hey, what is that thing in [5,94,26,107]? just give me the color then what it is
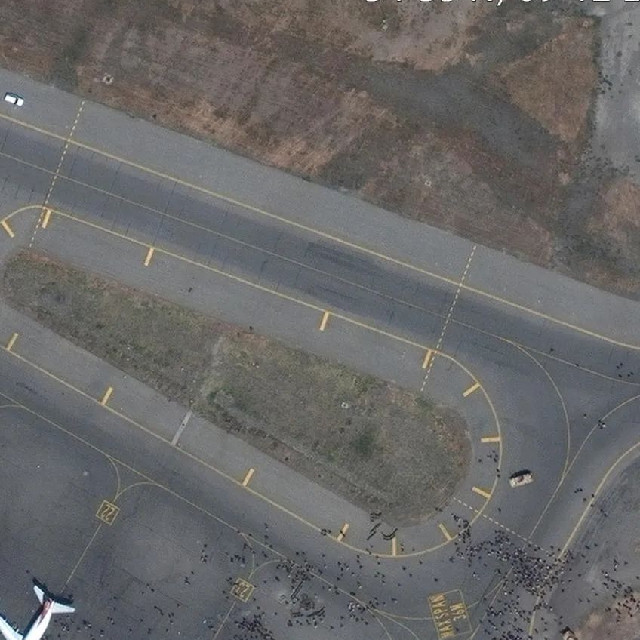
white vehicle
